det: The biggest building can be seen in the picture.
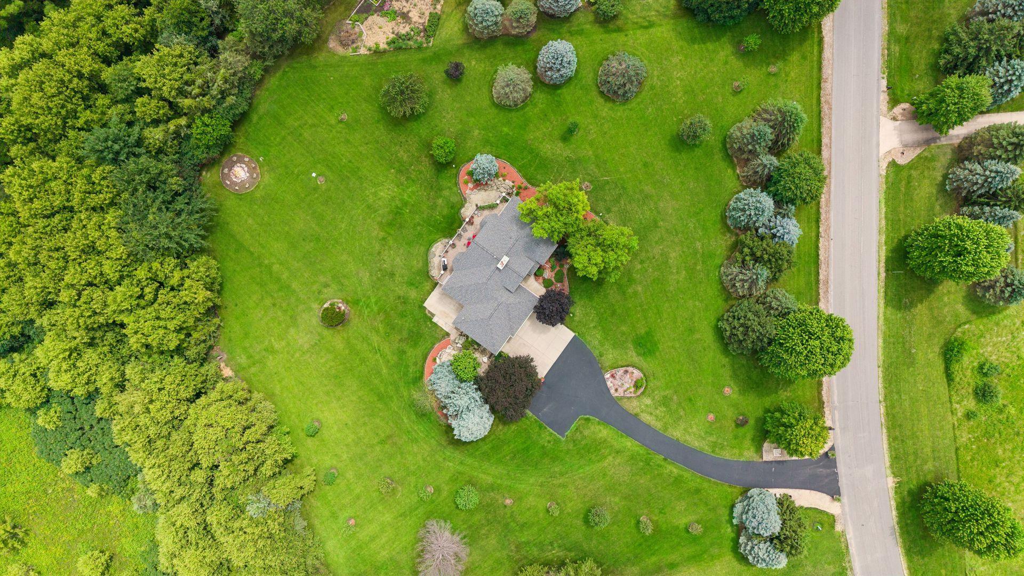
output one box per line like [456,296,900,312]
[439,195,558,356]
